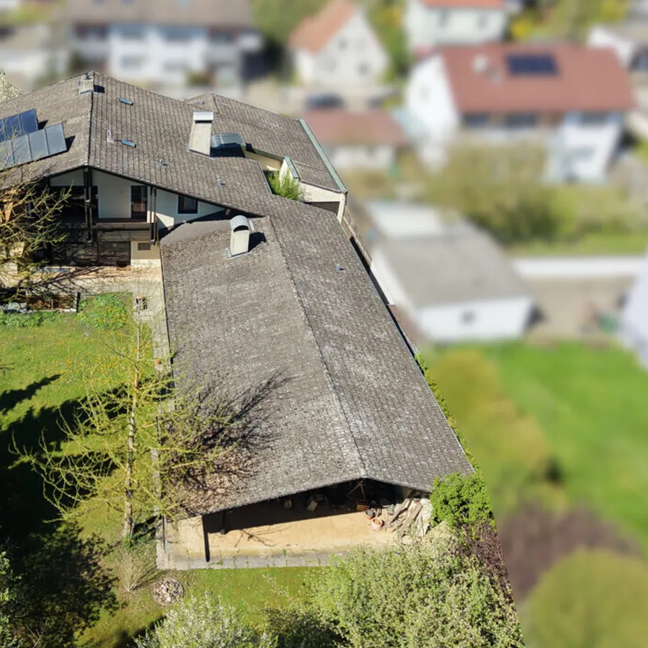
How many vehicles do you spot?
2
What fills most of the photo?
buildings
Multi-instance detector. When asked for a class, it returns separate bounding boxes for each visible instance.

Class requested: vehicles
[297,86,354,109]
[351,84,408,109]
